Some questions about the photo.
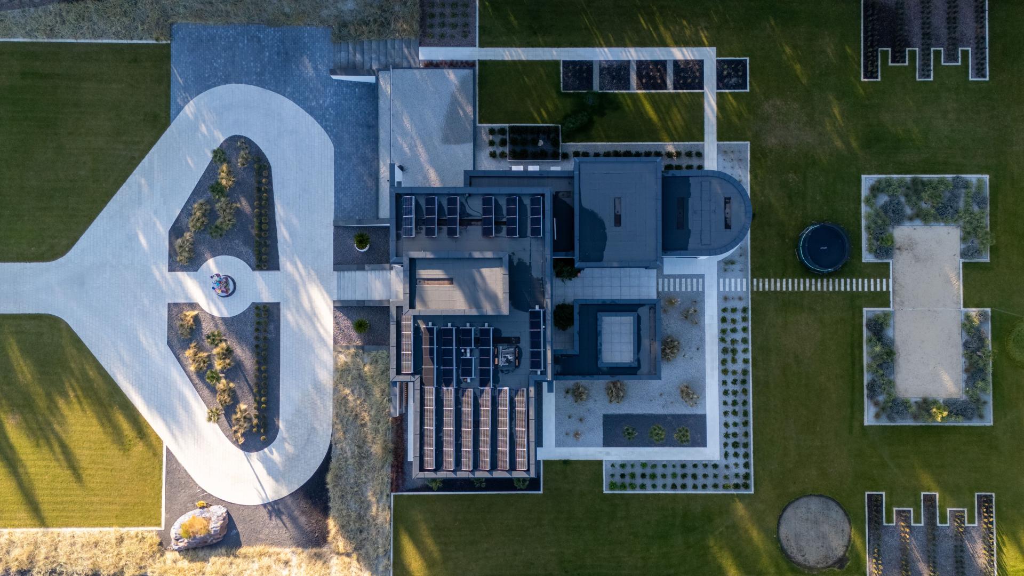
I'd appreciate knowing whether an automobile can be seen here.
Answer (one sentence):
No, there isn't any automobile down there.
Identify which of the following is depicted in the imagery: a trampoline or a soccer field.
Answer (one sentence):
Visible in the photo is a trampoline.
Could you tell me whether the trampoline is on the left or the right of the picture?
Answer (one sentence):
The trampoline is on the right side of the image.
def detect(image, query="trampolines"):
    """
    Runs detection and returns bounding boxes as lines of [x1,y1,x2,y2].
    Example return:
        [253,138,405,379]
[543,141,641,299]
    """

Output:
[794,221,859,274]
